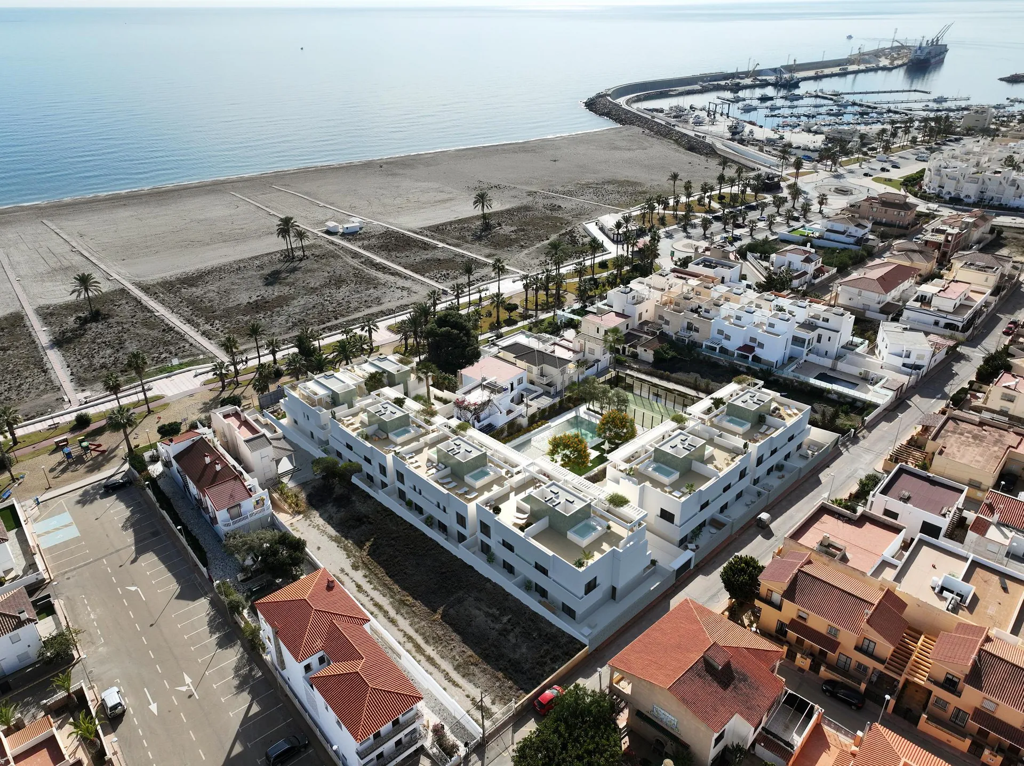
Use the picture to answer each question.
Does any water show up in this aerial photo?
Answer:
Yes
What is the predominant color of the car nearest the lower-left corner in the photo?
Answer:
white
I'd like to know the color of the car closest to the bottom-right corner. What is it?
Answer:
black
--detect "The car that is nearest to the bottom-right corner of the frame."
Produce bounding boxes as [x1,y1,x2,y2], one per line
[819,679,868,712]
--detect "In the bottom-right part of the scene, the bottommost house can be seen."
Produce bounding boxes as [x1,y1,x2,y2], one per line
[843,716,959,766]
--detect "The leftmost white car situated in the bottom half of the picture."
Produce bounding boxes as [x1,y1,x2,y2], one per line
[99,683,128,720]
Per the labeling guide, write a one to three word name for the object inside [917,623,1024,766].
house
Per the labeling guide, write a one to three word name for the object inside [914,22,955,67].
ship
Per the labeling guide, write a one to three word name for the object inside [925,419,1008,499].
house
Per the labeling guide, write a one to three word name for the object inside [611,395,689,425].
sports court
